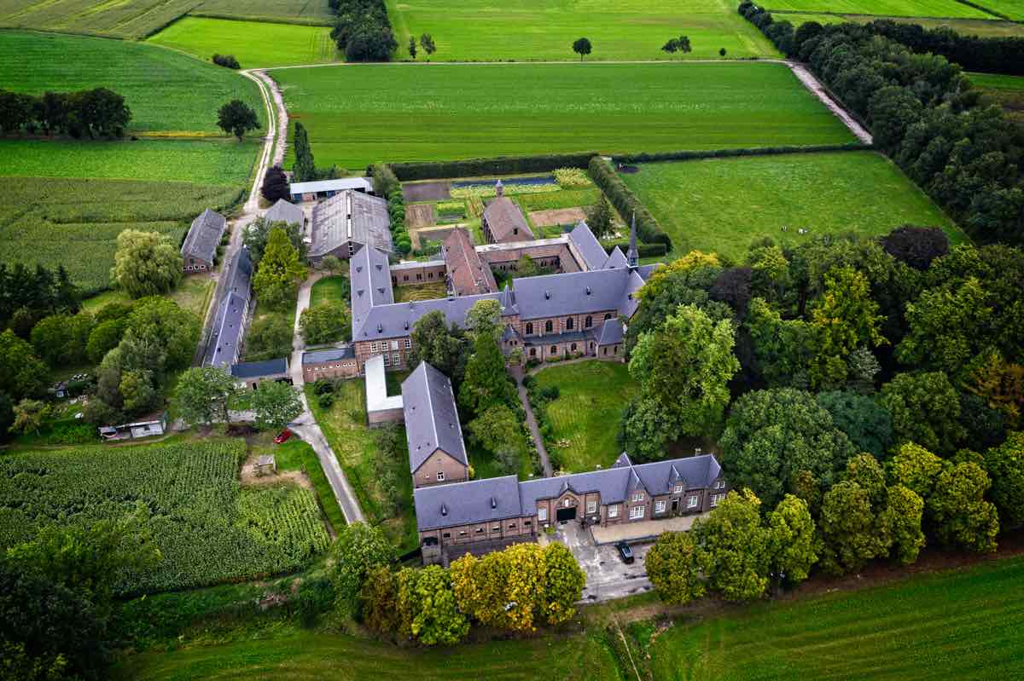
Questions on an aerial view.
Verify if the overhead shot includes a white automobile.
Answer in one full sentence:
No, this view has no white automobile in it.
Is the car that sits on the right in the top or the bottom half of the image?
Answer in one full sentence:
You can find the car that sits on the right in the bottom half.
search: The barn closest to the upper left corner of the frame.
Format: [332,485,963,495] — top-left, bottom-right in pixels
[180,209,229,275]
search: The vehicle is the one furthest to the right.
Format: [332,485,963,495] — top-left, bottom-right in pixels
[612,537,638,566]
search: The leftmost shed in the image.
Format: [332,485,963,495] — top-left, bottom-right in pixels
[48,379,73,397]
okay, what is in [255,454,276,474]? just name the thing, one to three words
shed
